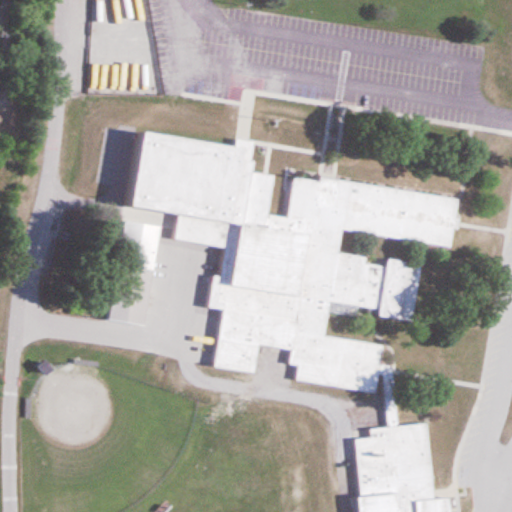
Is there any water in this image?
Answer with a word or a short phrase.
No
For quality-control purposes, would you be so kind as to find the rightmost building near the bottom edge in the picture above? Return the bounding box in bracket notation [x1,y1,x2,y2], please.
[352,422,452,512]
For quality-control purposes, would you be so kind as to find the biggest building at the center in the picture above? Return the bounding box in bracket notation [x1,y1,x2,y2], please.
[126,132,460,394]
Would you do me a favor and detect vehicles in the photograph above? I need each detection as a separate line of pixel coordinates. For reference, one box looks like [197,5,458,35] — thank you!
[98,64,109,89]
[90,64,100,89]
[110,64,119,90]
[141,64,150,89]
[112,0,122,23]
[130,64,139,90]
[134,0,144,20]
[118,64,128,89]
[192,336,215,344]
[123,0,134,20]
[96,0,104,22]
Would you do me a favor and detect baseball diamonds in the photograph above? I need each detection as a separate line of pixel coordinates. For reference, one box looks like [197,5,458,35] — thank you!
[22,356,196,512]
